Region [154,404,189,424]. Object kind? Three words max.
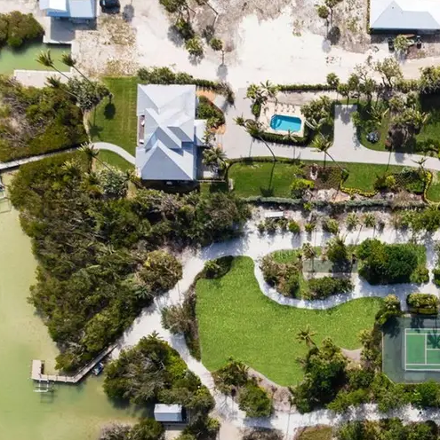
building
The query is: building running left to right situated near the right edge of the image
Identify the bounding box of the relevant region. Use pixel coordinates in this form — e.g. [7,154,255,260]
[369,0,440,31]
